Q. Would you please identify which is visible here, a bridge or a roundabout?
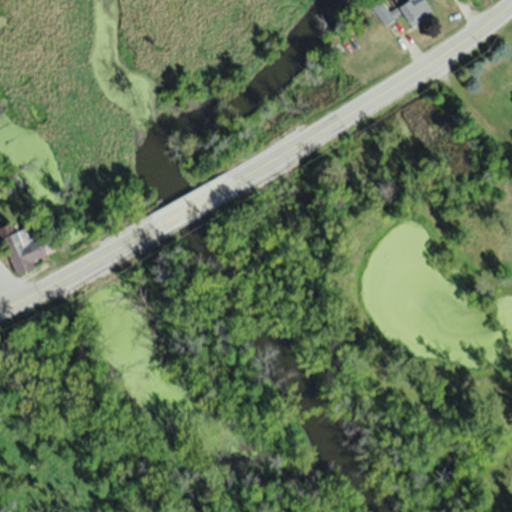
bridge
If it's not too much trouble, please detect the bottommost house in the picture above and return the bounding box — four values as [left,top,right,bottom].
[4,232,45,276]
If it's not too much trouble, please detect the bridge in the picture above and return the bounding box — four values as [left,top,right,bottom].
[140,172,240,244]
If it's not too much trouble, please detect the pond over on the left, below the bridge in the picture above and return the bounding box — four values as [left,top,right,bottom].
[92,290,188,405]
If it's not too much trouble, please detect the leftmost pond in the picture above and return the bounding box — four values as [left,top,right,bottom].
[0,114,66,204]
